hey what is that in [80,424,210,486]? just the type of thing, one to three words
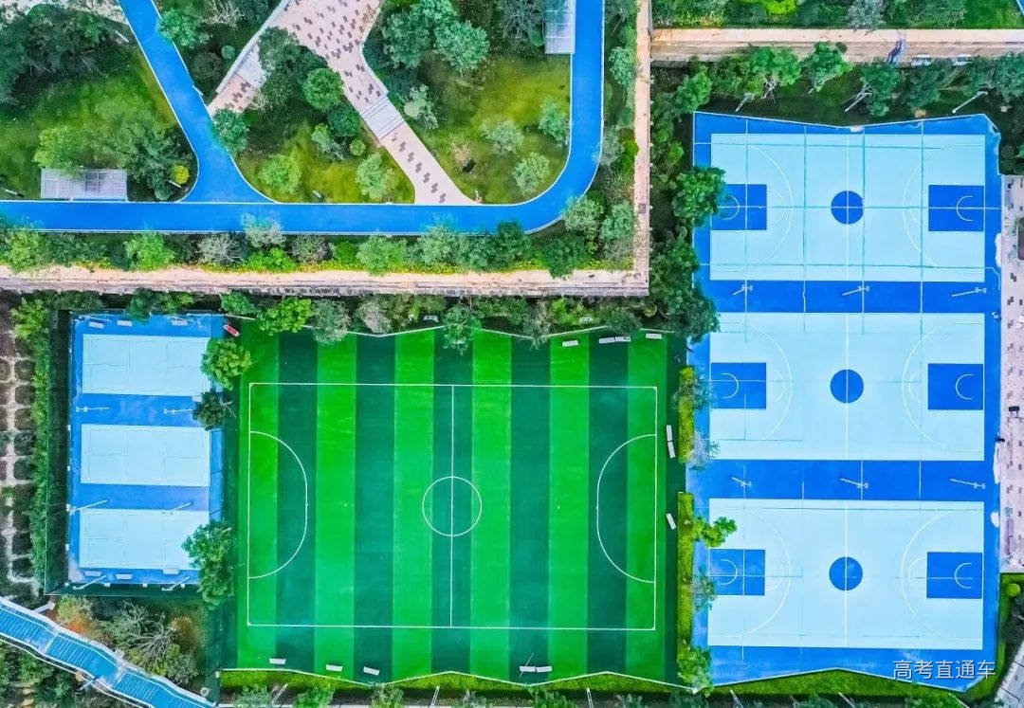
sports court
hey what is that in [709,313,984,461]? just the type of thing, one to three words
basketball court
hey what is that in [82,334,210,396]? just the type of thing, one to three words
sports court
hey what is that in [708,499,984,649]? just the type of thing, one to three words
basketball court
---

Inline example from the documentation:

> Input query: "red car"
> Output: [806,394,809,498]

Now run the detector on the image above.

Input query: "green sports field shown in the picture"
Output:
[221,318,692,688]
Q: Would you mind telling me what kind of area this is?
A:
sports ground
